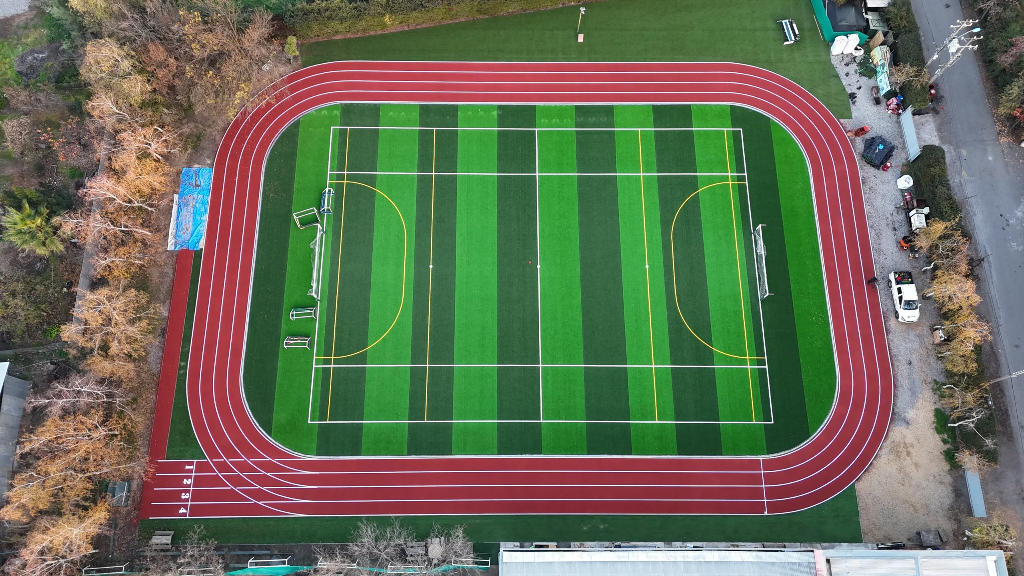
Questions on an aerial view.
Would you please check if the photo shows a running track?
Yes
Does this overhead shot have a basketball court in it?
No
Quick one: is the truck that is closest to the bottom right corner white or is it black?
white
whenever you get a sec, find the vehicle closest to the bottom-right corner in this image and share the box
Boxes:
[891,271,925,323]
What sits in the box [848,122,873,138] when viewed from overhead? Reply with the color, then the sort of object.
red vehicle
